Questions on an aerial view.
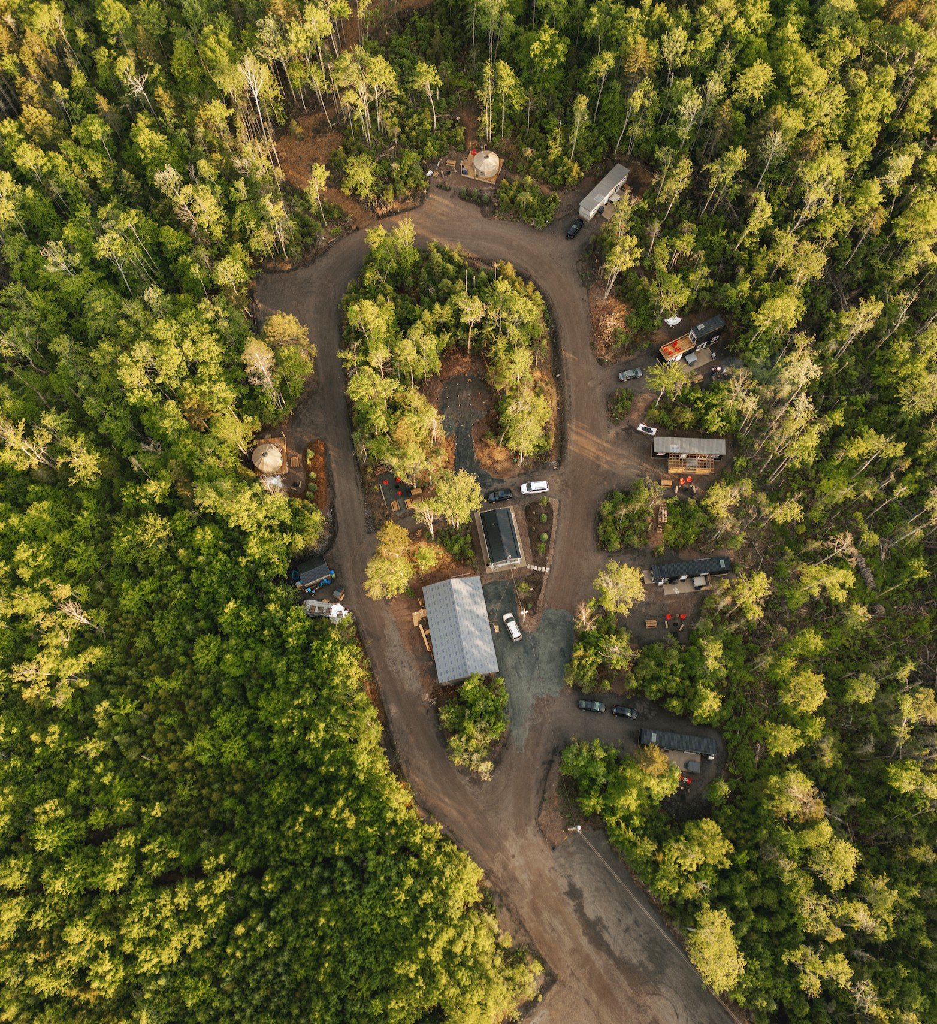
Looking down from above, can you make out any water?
No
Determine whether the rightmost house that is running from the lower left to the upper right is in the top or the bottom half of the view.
top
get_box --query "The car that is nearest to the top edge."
[565,219,584,239]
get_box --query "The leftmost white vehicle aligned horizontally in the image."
[520,481,549,495]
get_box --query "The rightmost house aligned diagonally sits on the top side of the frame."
[657,314,726,365]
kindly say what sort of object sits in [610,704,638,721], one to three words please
car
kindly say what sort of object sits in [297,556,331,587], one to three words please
shed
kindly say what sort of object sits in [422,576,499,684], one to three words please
building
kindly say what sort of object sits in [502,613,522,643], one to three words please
car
